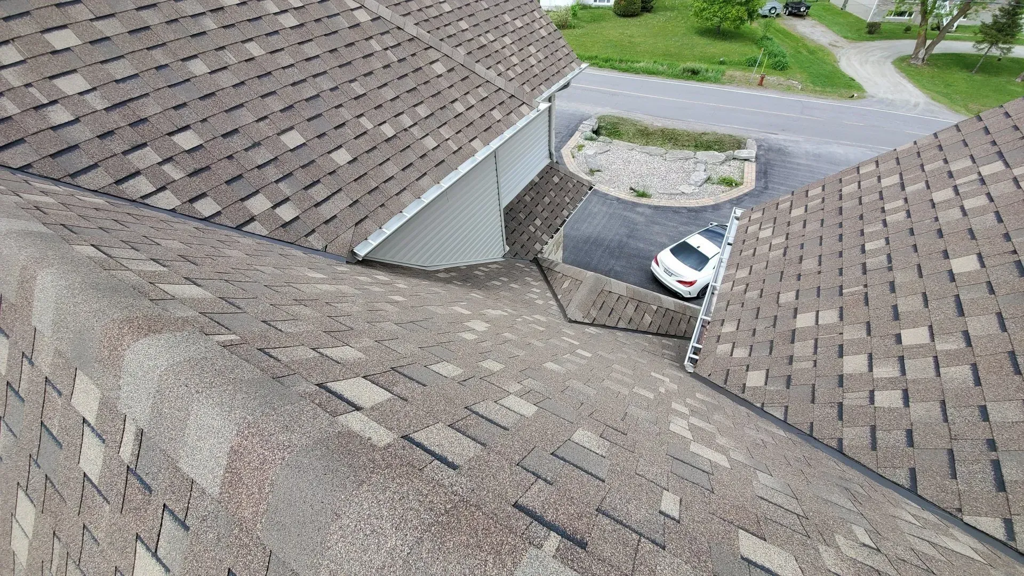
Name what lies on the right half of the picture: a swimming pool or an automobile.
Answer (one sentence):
Visible on the right half of the picture is an automobile.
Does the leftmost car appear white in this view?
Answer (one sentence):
Yes, white is the color of the leftmost car.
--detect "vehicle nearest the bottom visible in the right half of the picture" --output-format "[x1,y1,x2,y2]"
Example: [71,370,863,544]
[653,220,730,295]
